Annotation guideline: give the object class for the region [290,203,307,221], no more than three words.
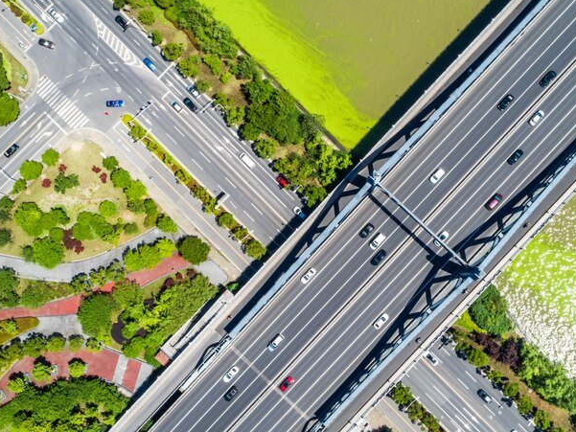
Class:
car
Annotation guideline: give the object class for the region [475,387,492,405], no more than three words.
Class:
car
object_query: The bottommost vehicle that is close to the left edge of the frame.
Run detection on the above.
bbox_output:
[3,142,21,160]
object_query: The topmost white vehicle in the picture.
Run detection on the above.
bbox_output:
[49,5,66,22]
